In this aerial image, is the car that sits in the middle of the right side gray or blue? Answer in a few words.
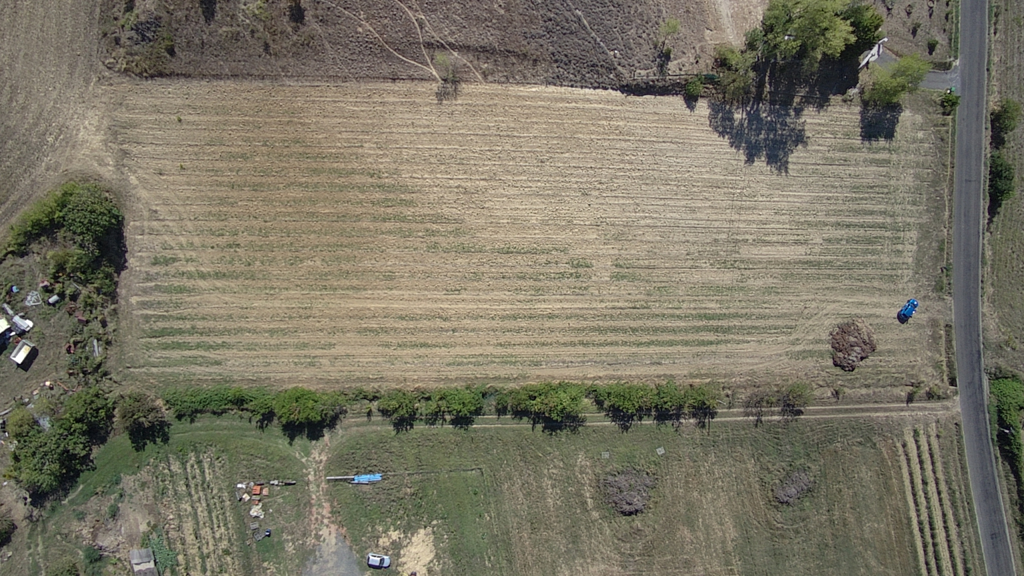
blue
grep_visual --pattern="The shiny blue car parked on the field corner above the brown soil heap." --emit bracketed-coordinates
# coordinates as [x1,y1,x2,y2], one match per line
[897,298,917,323]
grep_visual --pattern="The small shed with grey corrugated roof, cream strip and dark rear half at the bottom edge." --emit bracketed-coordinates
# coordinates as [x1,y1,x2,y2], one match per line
[130,546,160,576]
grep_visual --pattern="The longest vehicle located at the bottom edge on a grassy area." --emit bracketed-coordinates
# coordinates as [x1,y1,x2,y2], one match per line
[368,554,391,567]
